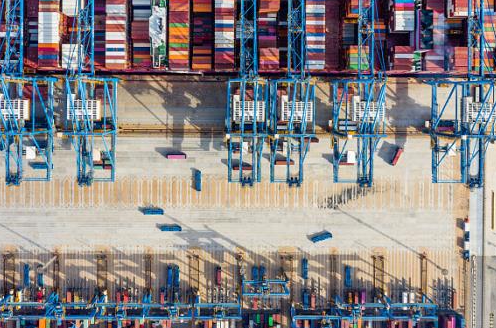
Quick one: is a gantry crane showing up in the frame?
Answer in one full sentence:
Yes, the photo shows a gantry crane.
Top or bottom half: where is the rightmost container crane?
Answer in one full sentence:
The rightmost container crane sits in the top half of the picture.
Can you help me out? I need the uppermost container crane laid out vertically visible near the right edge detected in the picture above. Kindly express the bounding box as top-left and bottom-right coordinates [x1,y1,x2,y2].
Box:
[419,0,496,189]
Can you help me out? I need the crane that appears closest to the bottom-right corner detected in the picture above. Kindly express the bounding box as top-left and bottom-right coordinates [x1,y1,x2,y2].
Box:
[379,288,435,319]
